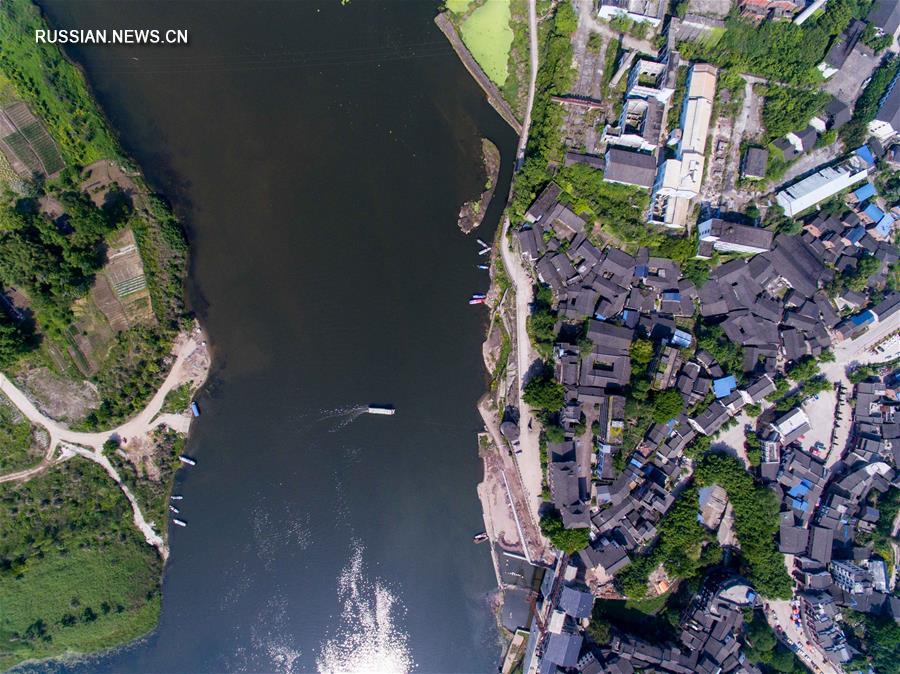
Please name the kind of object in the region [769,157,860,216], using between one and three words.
building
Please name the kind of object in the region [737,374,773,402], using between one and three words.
house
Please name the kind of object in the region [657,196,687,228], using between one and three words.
building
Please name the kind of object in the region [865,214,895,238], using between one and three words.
shed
